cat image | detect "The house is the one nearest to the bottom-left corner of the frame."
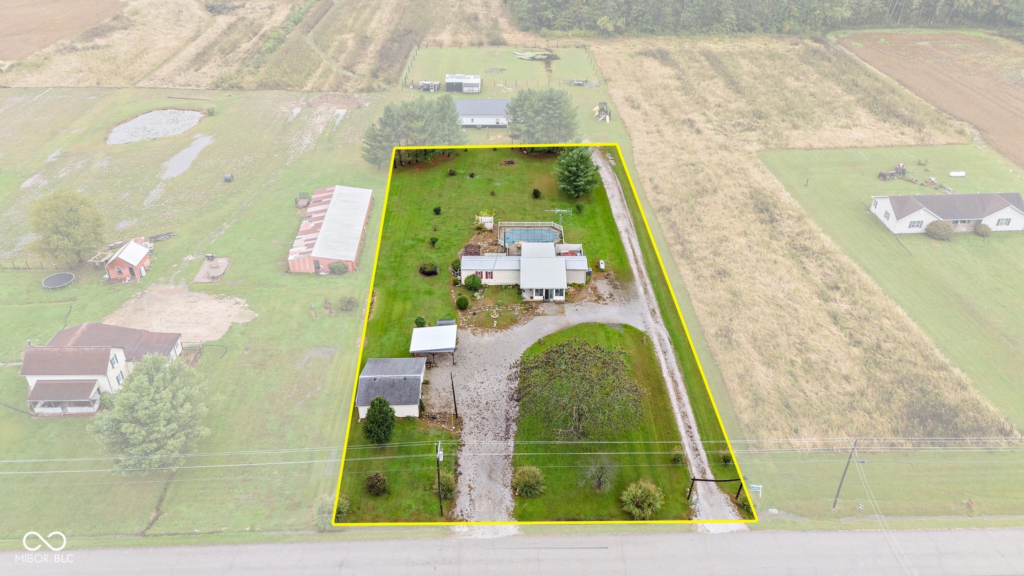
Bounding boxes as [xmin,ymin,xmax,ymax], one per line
[20,321,182,414]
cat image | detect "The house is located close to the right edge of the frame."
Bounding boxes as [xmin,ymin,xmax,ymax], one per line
[873,189,1024,234]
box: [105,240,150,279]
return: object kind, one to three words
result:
shed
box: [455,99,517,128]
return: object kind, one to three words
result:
house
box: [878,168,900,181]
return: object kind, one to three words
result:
vehicle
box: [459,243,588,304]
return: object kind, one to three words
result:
house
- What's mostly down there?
grass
